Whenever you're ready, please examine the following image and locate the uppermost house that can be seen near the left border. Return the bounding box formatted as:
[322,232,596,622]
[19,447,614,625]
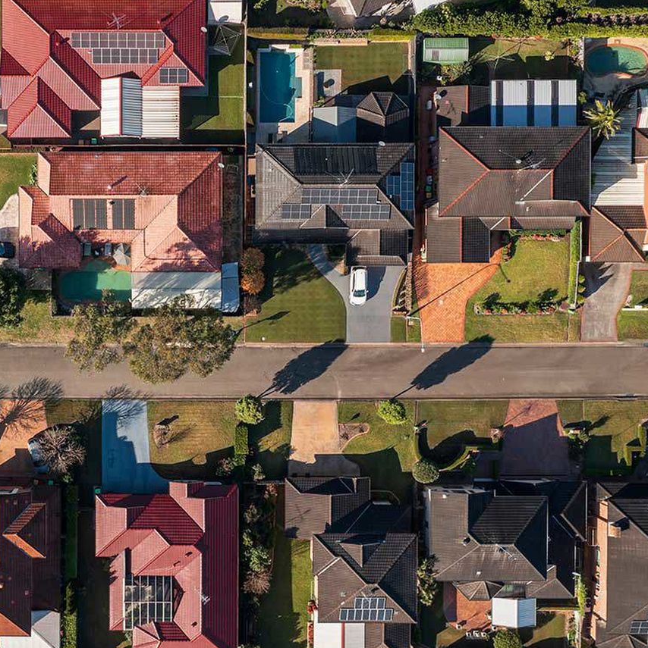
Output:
[0,0,207,140]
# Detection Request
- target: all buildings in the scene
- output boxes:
[18,150,223,309]
[252,143,416,267]
[0,487,62,648]
[283,477,418,648]
[0,0,207,140]
[95,481,238,648]
[591,482,648,648]
[421,38,469,66]
[424,477,586,628]
[208,0,243,26]
[423,79,590,263]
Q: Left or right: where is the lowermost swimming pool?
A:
left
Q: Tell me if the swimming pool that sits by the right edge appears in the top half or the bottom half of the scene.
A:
top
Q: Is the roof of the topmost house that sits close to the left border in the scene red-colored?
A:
Yes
